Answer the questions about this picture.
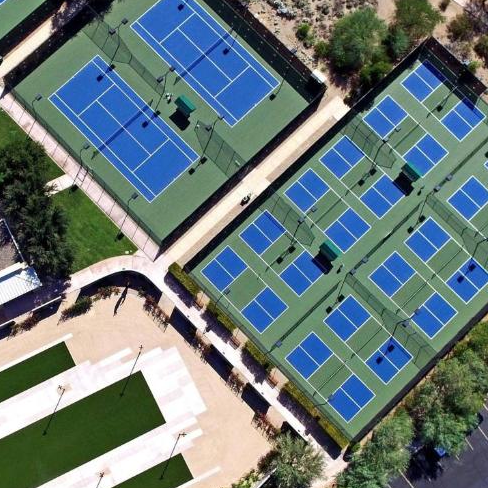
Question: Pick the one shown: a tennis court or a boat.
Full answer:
The image shows a tennis court.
